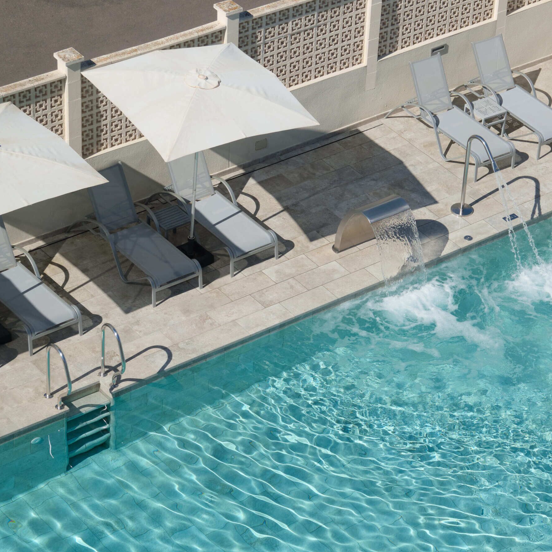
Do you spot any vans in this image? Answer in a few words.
No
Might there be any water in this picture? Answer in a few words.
Yes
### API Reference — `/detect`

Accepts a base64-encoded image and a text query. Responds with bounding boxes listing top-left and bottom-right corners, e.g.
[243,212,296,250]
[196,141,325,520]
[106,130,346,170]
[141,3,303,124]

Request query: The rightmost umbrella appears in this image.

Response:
[82,42,320,261]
